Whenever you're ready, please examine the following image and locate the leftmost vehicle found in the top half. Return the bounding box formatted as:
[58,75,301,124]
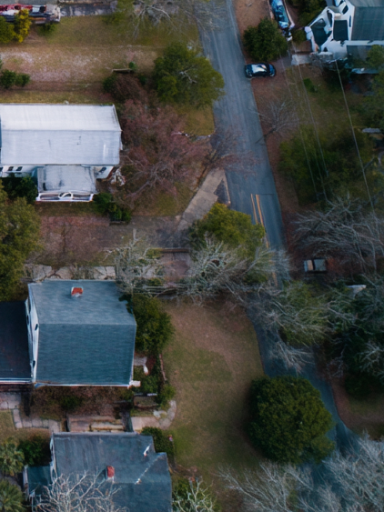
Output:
[242,65,275,79]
